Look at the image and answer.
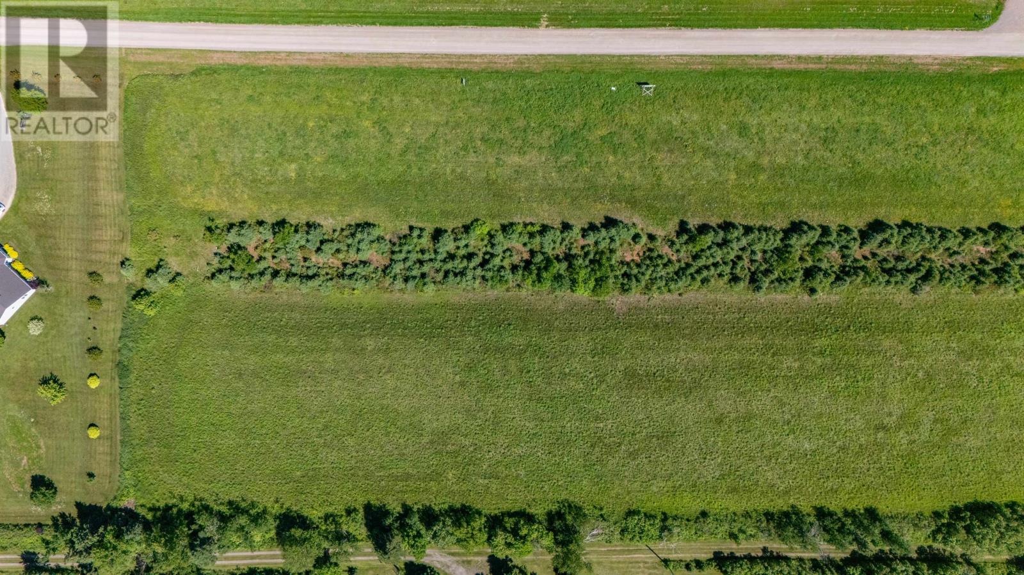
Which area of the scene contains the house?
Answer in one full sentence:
The house is located in the left region of the scene.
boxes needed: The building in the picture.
[0,246,38,326]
